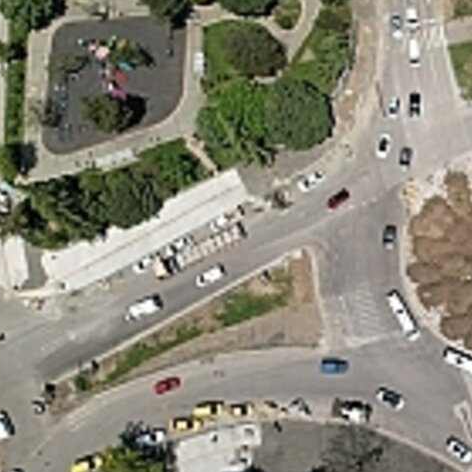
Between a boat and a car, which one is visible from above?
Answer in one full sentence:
Visible in the photo is a car.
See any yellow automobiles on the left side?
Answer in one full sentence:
Yes, there is a yellow automobile on the left side.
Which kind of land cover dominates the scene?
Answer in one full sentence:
The scene is dominated by paved ground.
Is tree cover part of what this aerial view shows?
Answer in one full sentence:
Yes, some tree cover is visible.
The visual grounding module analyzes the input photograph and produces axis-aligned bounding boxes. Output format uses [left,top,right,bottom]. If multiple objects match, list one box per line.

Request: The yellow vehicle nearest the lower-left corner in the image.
[70,452,105,472]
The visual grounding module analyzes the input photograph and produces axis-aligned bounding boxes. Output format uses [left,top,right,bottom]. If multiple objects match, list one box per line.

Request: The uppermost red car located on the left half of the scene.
[152,376,183,395]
